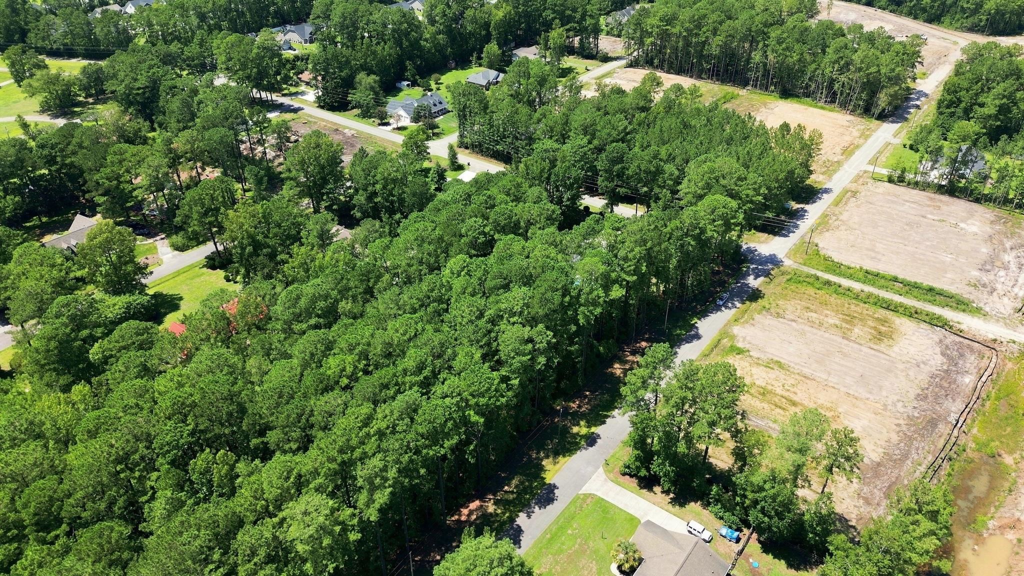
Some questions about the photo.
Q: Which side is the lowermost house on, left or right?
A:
right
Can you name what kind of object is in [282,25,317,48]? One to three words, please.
house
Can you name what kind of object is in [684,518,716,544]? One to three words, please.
car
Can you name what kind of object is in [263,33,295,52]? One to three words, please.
house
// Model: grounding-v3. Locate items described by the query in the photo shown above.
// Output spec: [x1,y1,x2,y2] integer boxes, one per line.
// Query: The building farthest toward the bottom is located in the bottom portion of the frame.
[626,519,735,576]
